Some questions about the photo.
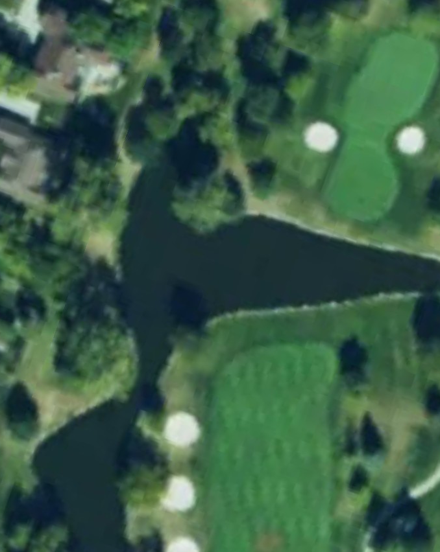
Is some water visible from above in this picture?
Yes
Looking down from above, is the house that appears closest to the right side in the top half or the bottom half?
top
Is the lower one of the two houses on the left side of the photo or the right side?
left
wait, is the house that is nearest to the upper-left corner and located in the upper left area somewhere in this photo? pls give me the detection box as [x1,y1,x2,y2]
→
[29,9,112,100]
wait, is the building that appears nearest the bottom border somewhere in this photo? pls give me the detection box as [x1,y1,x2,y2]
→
[0,113,54,212]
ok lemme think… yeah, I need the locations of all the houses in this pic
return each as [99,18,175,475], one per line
[0,113,54,212]
[29,9,112,100]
